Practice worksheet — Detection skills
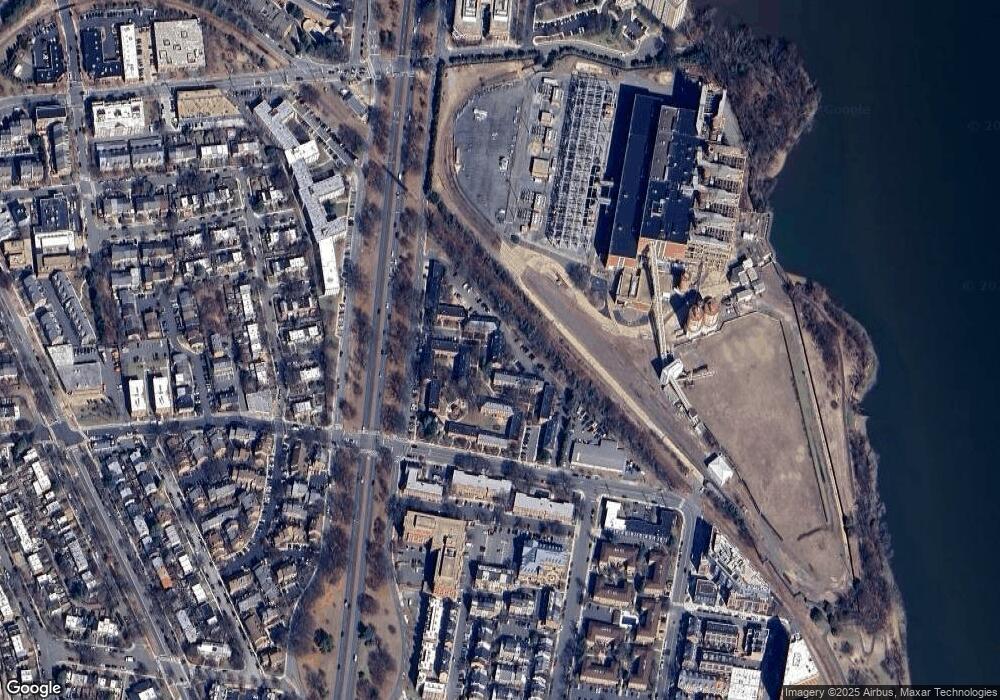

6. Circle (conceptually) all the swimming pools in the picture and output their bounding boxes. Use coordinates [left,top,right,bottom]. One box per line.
[620,614,638,629]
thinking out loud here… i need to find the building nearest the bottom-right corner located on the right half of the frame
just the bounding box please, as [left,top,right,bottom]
[782,635,824,700]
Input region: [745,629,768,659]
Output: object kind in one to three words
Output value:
building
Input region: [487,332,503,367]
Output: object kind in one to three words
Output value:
house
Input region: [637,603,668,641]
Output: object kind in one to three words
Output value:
house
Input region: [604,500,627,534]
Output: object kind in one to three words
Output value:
building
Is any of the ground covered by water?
Yes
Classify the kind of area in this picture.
residential area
